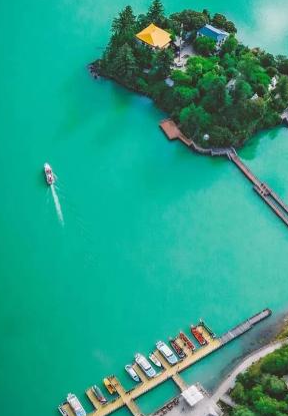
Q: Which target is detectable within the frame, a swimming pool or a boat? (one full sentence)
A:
Looking from above, you can make out a boat.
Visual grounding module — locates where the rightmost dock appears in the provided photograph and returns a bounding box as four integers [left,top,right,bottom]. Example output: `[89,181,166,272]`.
[218,310,272,348]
